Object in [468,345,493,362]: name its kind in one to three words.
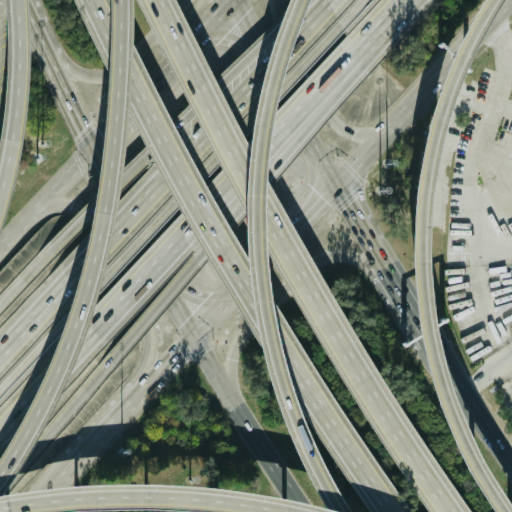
vehicle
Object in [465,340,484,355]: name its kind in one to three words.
vehicle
